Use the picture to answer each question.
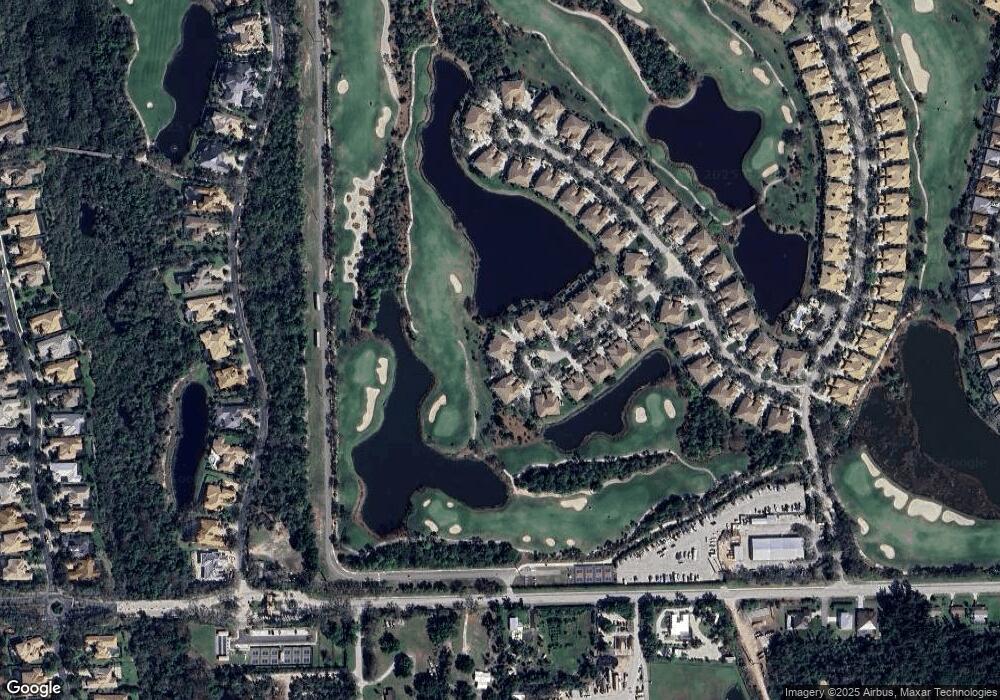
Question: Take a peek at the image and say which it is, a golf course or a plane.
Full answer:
Looking from above, you can make out a golf course.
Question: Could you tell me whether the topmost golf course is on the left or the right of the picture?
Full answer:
You can find the topmost golf course on the left side of the picture.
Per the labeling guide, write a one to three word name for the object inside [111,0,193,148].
golf course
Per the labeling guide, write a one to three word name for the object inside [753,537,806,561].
building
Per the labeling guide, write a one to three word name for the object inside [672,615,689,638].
house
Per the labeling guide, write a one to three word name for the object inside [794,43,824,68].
house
